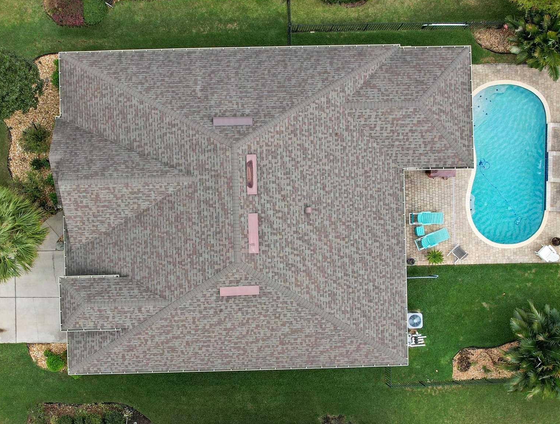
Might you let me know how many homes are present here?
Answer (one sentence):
The photo contains exactly 1 home.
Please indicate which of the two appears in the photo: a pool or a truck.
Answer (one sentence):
There is a pool in the scene.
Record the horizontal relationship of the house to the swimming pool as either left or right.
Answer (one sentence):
The house appears to the left of the swimming pool in this view.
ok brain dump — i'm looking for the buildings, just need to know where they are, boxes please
[49,42,476,378]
